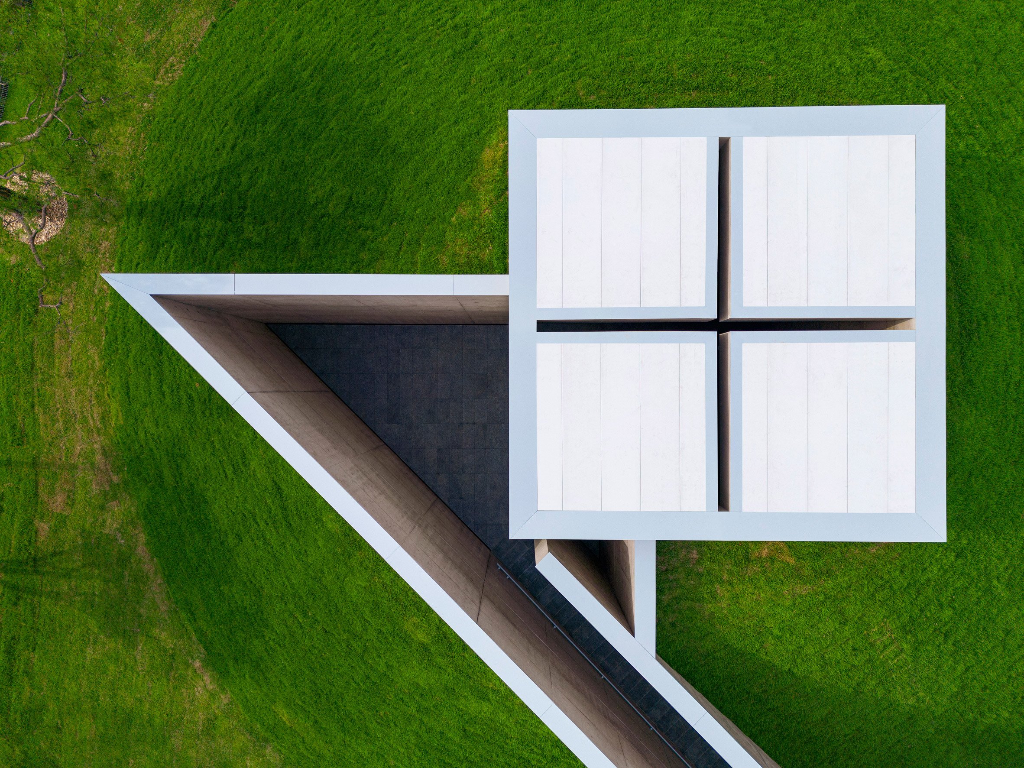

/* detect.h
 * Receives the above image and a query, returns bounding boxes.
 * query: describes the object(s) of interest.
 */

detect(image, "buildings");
[508,105,946,542]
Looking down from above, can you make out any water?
No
